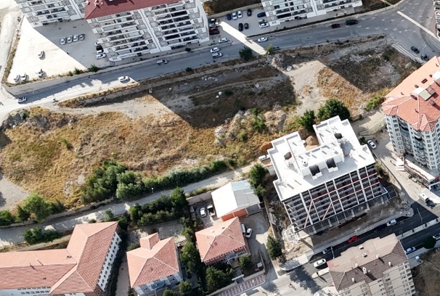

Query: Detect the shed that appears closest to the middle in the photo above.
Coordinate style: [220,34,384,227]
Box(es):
[212,179,262,222]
